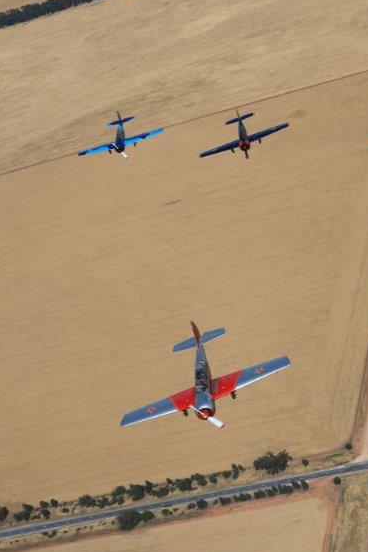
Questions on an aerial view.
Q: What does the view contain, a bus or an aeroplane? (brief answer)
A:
aeroplane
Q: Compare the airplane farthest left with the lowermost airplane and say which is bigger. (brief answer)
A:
the lowermost airplane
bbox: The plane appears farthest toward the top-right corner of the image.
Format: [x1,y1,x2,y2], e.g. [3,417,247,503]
[199,107,289,157]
